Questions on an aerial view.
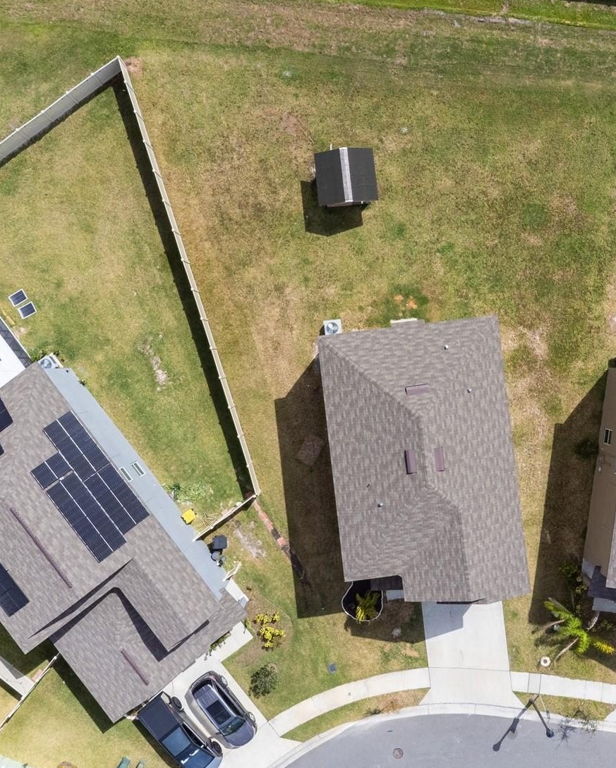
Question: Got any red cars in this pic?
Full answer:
No, there is no red car in the image.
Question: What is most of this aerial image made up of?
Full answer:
The scene is dominated by grass.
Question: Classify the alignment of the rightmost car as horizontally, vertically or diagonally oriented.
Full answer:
The rightmost car is oriented diagonally.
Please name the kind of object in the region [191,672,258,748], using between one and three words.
car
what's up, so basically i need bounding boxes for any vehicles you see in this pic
[138,689,225,768]
[191,672,258,748]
